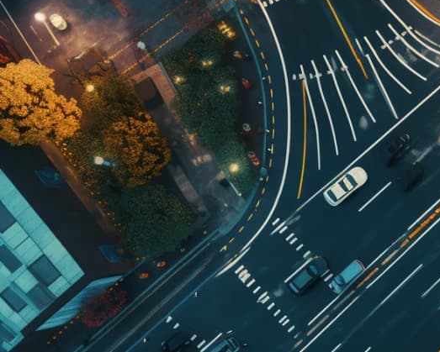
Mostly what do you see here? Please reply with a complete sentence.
For the most part, this view shows paved ground.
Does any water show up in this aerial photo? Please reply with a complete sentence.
No, the scene doesn't show any water.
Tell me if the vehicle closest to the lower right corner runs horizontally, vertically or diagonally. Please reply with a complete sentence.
I'd say the vehicle closest to the lower right corner is aligned diagonally in the picture.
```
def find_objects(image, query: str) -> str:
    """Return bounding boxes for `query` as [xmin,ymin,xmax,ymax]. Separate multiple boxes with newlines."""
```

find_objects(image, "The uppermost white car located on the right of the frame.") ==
[323,162,370,208]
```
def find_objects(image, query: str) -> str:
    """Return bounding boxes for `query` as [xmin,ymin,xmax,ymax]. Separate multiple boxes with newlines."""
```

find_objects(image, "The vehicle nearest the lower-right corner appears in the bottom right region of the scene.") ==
[326,257,367,297]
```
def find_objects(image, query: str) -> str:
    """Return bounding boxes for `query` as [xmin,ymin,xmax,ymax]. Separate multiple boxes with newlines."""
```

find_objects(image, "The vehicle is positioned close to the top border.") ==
[47,11,72,33]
